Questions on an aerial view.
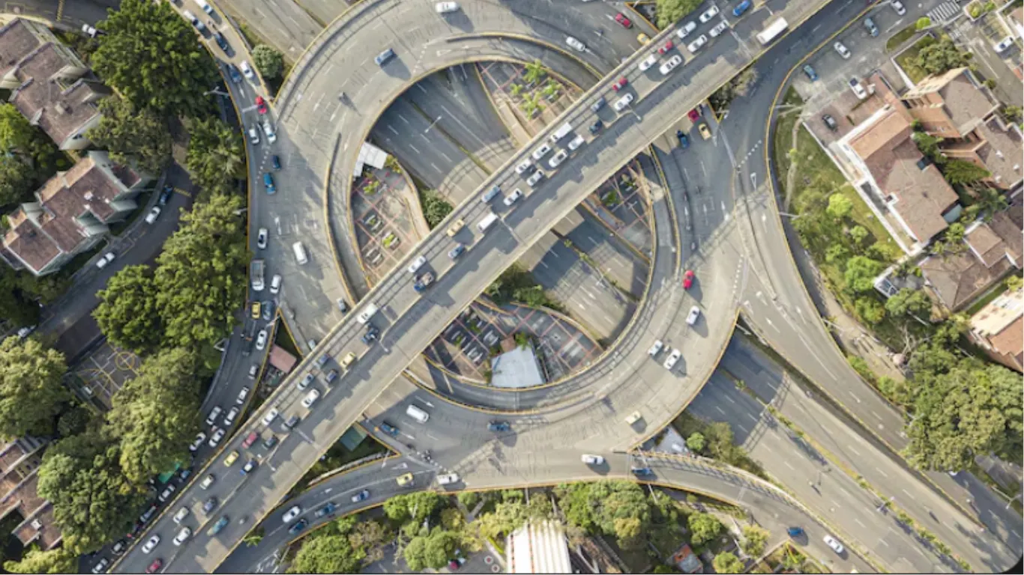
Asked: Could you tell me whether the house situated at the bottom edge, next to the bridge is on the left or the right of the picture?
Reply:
left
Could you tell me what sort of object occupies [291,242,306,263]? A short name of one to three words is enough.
vehicle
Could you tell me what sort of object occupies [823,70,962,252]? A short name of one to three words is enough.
house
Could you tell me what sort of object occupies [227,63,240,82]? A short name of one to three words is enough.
vehicle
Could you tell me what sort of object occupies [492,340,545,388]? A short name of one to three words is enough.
building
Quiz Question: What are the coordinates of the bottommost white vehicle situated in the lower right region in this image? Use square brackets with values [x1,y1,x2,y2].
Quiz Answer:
[824,537,843,552]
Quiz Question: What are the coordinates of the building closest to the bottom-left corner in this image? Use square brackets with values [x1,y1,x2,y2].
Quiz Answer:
[0,436,78,547]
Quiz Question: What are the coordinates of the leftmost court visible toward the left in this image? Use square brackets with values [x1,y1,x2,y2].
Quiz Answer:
[64,339,153,418]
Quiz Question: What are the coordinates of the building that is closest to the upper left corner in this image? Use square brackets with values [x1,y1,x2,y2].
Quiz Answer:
[0,18,111,152]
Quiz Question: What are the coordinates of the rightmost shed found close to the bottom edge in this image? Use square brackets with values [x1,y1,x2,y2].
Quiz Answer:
[672,542,704,575]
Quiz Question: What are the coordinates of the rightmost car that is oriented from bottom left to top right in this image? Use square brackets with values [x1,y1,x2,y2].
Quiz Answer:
[995,35,1015,50]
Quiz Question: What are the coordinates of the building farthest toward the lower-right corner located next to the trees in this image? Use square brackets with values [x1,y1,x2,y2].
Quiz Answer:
[967,271,1024,373]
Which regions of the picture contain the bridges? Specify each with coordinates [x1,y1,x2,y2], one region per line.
[105,0,829,575]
